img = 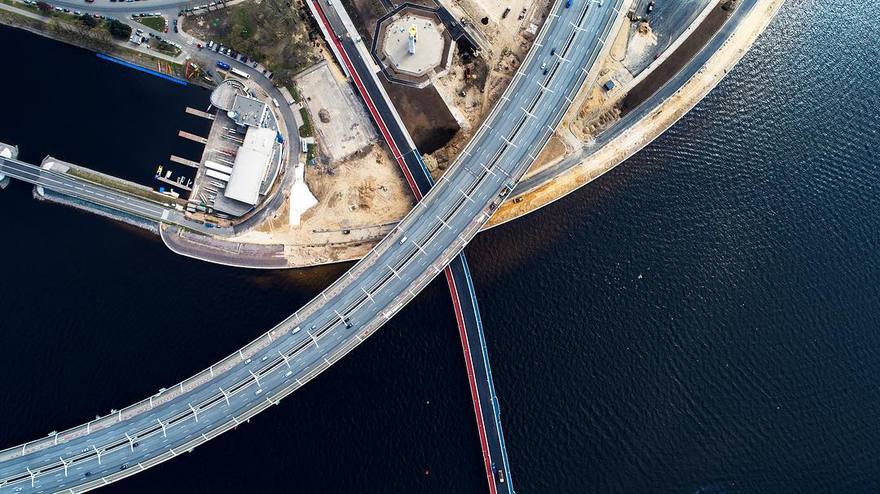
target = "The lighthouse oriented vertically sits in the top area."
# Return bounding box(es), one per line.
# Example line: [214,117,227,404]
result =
[404,28,416,58]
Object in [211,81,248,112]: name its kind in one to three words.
building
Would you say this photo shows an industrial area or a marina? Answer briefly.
marina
